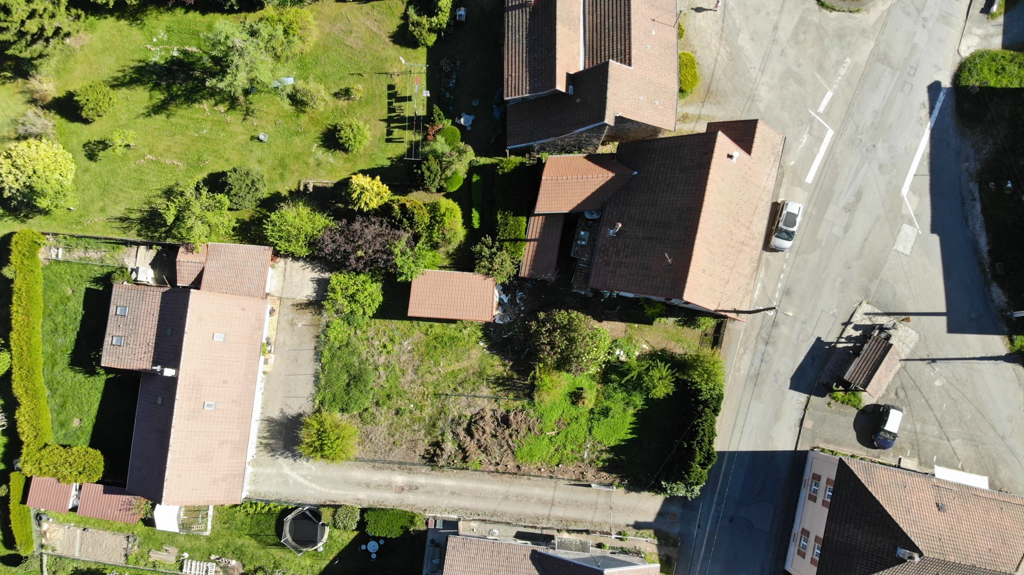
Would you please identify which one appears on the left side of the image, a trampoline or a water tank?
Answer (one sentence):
Visible on the left side of the image is a trampoline.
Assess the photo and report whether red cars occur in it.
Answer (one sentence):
No, I find no red car anywhere in the image.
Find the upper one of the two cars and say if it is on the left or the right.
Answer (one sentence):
It is on the right.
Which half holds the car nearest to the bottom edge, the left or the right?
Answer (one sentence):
The car nearest to the bottom edge appears in the right half of the scene.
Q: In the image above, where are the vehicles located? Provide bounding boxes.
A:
[769,199,801,253]
[870,402,902,452]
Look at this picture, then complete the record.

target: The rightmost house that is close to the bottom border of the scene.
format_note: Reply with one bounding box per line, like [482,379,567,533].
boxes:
[791,453,1024,575]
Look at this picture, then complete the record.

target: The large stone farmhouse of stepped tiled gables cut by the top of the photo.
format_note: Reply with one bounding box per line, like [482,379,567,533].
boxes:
[504,0,681,162]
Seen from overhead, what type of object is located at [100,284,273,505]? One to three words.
house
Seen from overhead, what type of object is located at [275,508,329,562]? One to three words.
trampoline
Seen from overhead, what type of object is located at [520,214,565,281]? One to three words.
shed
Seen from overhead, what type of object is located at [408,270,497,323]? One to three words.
shed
